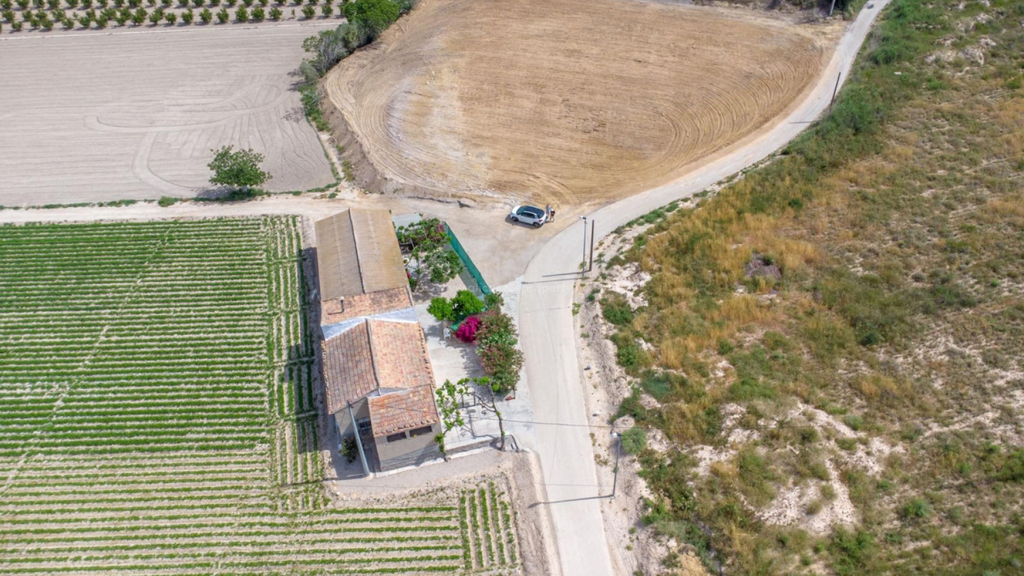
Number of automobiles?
one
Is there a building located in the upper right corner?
No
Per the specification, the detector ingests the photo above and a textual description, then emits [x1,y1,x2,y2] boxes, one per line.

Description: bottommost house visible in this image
[319,282,445,479]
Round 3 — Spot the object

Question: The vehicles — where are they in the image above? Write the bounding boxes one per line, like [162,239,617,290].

[508,210,545,231]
